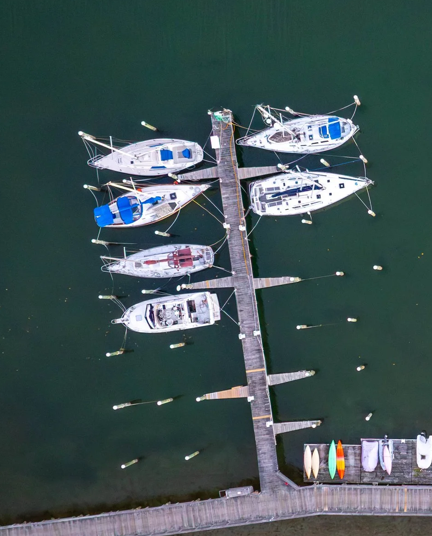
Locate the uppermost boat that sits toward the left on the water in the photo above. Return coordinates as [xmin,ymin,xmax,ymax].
[81,132,204,176]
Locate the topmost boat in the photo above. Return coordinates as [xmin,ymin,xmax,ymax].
[231,103,359,153]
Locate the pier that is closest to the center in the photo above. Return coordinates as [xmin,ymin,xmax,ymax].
[192,276,235,289]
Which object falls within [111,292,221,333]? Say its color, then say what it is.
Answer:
white boat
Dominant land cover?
water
